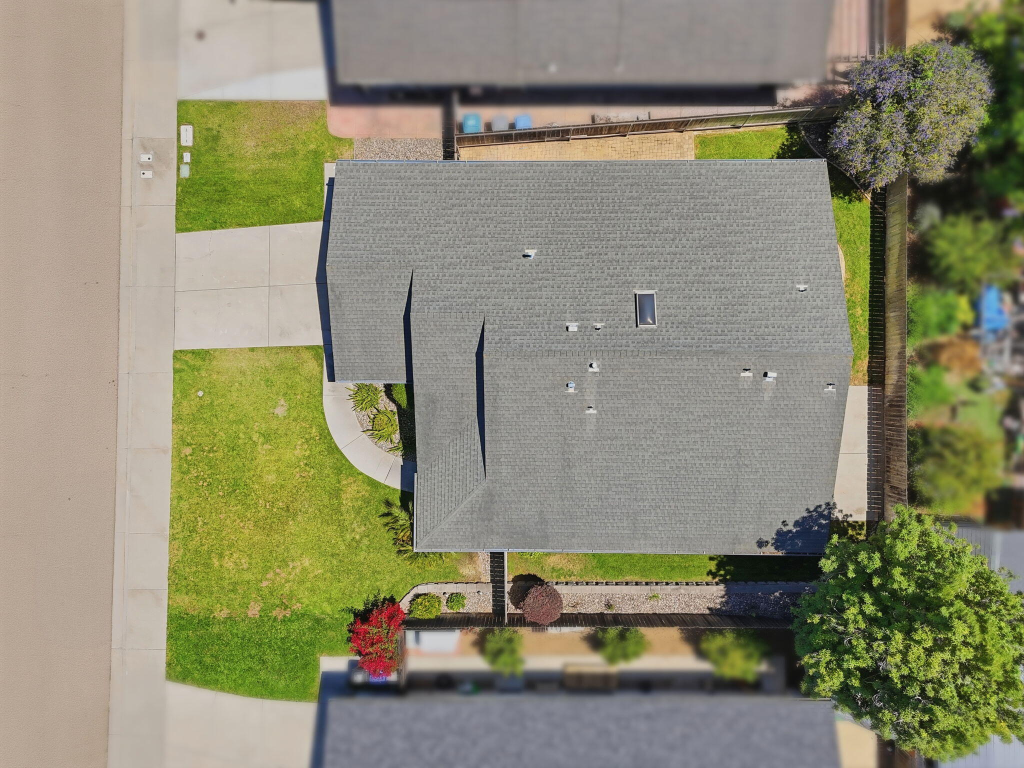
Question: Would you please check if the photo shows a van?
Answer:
No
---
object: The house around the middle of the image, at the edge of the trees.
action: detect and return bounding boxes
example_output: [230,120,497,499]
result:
[326,157,853,556]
